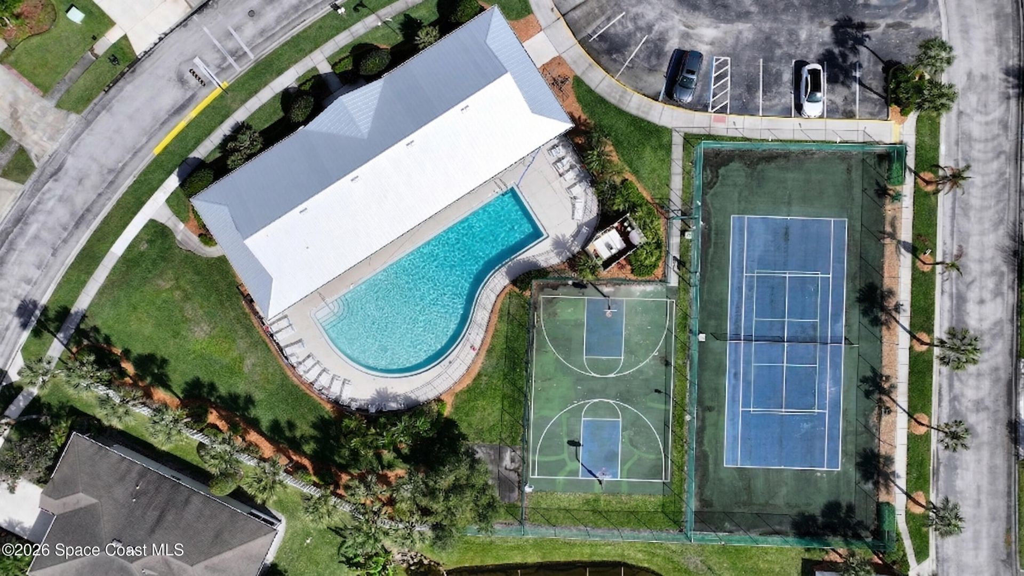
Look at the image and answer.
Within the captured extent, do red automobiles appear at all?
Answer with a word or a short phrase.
No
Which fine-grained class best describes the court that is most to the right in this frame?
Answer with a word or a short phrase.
tennis court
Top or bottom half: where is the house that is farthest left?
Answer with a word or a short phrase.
bottom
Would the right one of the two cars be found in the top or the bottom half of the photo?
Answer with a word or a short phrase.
top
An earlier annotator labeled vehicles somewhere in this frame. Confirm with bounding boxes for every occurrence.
[799,64,826,118]
[671,48,702,104]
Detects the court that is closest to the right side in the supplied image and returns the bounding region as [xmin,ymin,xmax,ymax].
[690,151,886,537]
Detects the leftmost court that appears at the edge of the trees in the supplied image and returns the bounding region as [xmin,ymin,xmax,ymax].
[526,282,677,497]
